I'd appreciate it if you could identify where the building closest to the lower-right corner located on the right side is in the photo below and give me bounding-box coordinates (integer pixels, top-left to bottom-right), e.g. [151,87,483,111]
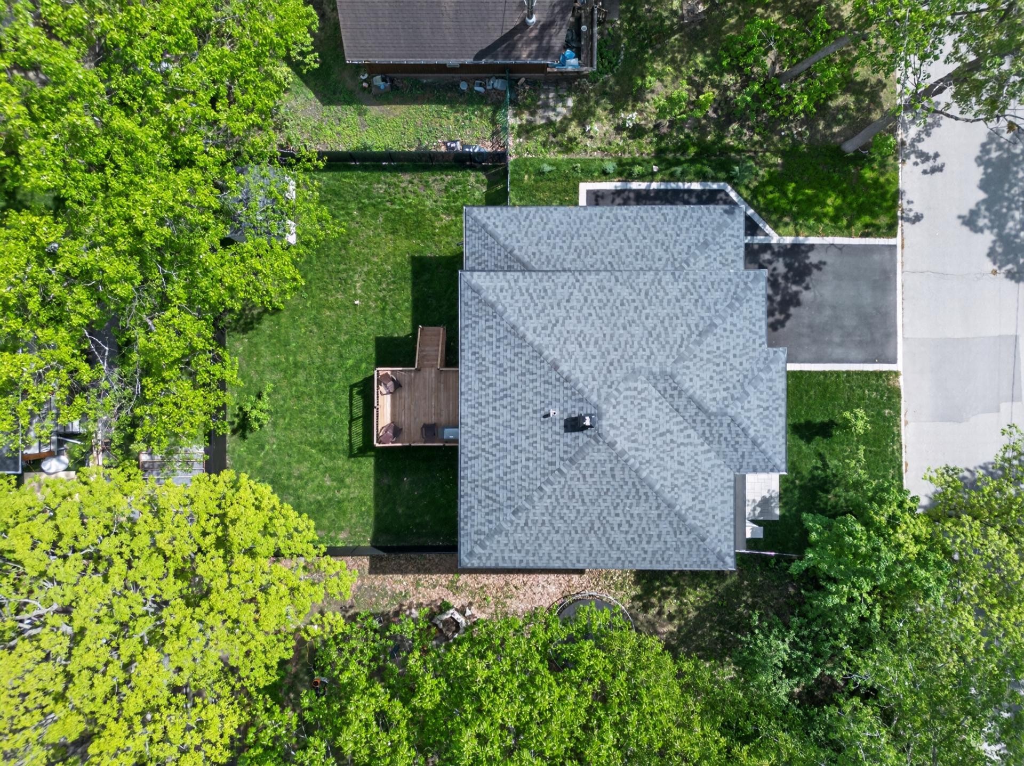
[456,203,791,573]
